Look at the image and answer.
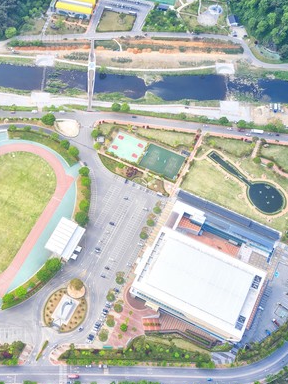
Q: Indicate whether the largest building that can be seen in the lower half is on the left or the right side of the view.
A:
right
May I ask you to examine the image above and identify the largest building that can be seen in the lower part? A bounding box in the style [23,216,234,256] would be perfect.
[131,201,266,338]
